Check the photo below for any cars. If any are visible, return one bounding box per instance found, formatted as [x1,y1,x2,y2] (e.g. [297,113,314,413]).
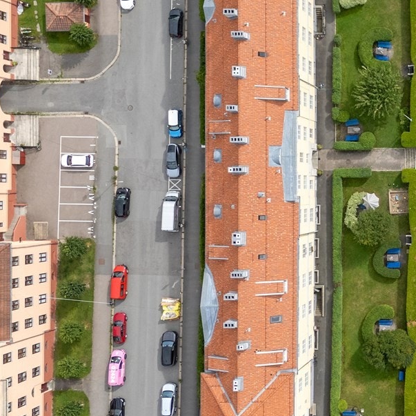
[114,189,131,217]
[109,398,127,416]
[122,0,136,9]
[163,331,179,365]
[63,154,94,169]
[168,110,183,137]
[168,9,184,39]
[161,383,178,416]
[108,349,126,386]
[165,144,182,177]
[112,313,129,343]
[110,265,128,300]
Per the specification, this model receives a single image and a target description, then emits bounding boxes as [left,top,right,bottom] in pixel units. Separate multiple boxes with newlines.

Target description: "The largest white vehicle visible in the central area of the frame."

[162,192,182,232]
